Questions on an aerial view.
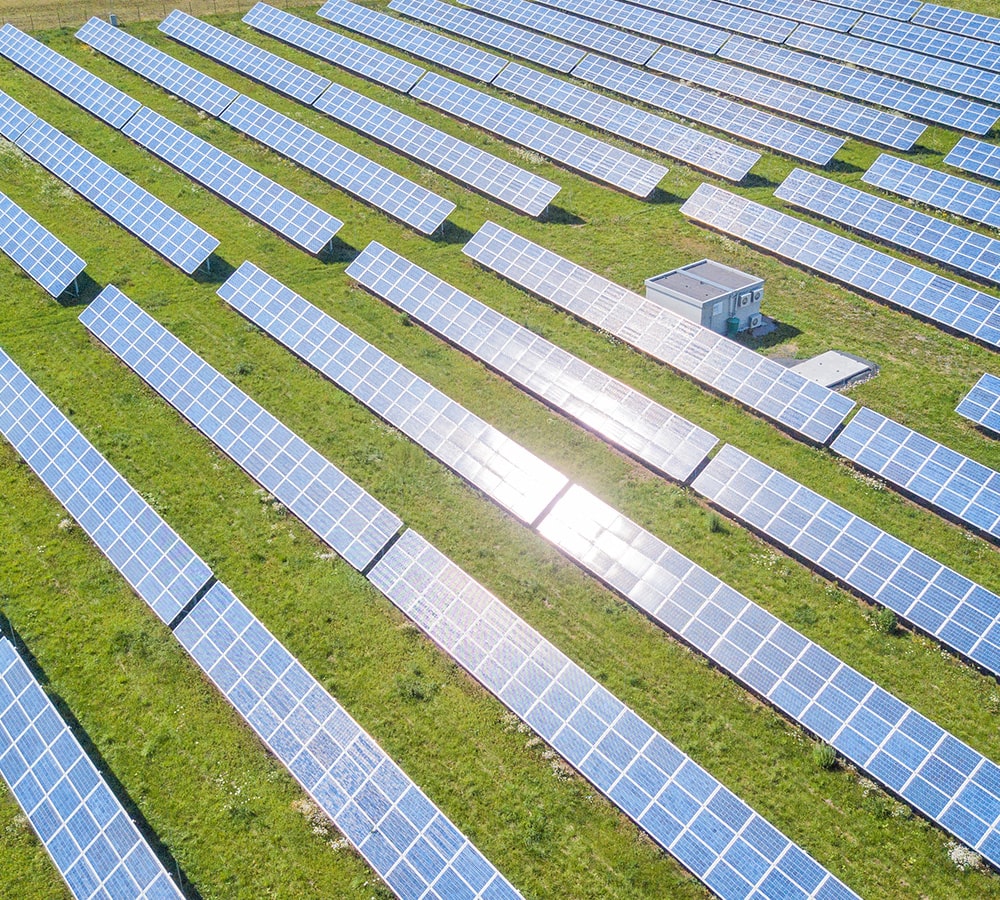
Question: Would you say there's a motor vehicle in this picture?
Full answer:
No, the scene contains no motor vehicle.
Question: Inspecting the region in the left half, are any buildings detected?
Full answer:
No, I see no building in the left half.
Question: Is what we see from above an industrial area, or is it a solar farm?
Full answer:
This image shows a solar farm.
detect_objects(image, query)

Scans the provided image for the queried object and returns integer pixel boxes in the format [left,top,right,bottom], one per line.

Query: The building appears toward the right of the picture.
[646,258,765,338]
